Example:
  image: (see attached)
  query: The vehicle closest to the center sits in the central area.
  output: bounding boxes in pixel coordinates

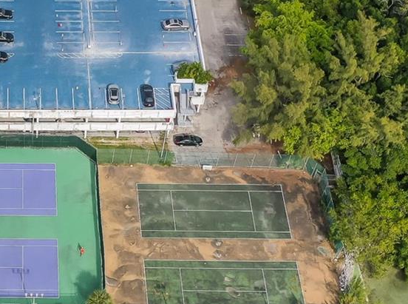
[175,134,201,147]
